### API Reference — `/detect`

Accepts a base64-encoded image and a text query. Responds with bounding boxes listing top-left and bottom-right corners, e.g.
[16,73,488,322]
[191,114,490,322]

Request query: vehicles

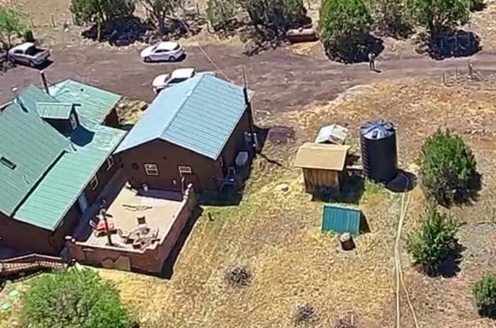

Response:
[138,40,181,61]
[5,45,46,68]
[156,64,214,92]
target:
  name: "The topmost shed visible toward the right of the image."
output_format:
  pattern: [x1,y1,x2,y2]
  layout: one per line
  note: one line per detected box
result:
[295,141,350,189]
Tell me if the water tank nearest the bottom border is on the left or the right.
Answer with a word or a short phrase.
right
